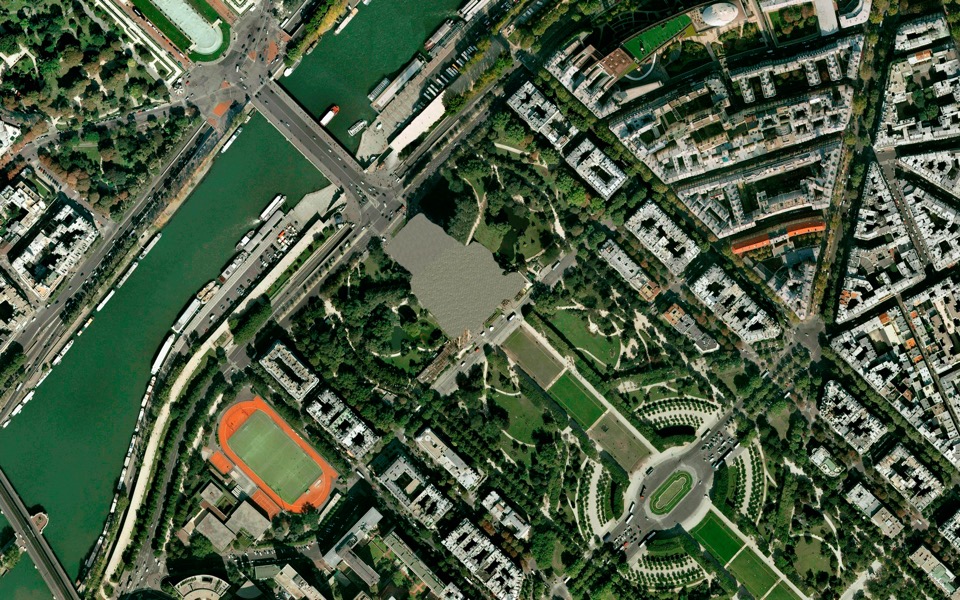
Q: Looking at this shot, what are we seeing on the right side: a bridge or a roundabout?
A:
roundabout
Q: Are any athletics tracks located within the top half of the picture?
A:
No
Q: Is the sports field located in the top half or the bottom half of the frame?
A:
bottom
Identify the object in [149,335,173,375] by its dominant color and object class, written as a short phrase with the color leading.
white vessel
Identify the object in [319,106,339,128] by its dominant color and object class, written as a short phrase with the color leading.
white boat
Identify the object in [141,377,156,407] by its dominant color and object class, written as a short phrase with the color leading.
white boat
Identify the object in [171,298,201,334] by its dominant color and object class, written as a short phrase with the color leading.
white vessel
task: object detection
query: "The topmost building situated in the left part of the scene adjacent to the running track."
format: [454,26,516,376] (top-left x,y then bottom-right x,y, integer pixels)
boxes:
[259,340,320,401]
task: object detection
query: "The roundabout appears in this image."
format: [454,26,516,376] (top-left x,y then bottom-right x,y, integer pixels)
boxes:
[589,398,753,567]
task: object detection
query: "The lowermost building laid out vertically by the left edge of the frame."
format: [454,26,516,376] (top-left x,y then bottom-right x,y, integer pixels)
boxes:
[0,278,33,349]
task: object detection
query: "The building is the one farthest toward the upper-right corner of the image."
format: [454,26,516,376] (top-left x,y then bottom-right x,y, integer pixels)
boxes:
[893,12,951,52]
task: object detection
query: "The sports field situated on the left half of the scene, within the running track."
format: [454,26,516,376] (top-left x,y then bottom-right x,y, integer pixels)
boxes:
[228,409,323,503]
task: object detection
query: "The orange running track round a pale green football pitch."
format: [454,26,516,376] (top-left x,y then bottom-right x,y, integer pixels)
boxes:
[219,396,338,513]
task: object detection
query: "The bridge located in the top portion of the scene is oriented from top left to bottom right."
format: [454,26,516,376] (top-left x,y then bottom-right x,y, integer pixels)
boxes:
[252,82,364,184]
